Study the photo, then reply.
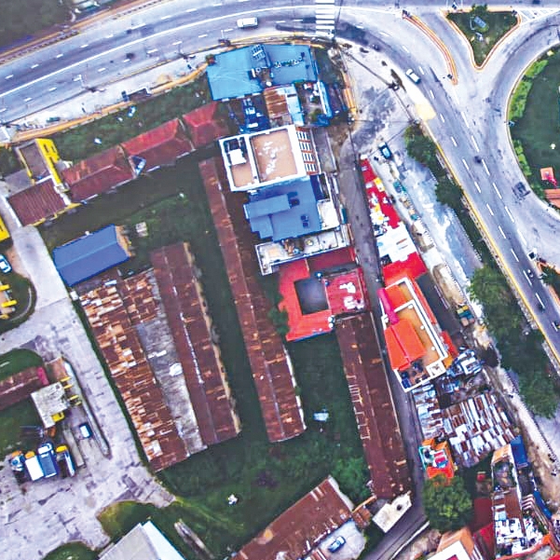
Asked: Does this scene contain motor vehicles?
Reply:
Yes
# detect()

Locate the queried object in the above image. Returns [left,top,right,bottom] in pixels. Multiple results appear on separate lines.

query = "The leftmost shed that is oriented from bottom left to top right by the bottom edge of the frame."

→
[231,475,355,560]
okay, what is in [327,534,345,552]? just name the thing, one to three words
car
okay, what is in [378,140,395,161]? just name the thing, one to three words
vehicle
